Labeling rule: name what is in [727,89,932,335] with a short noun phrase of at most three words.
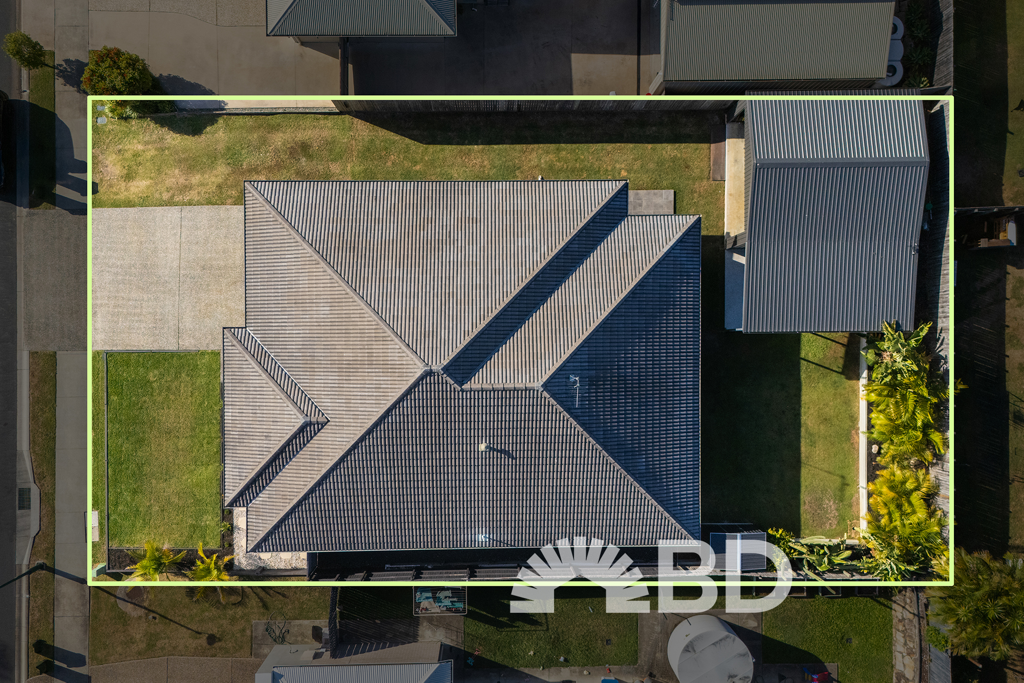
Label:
shed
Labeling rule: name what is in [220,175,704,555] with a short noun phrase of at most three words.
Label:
house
